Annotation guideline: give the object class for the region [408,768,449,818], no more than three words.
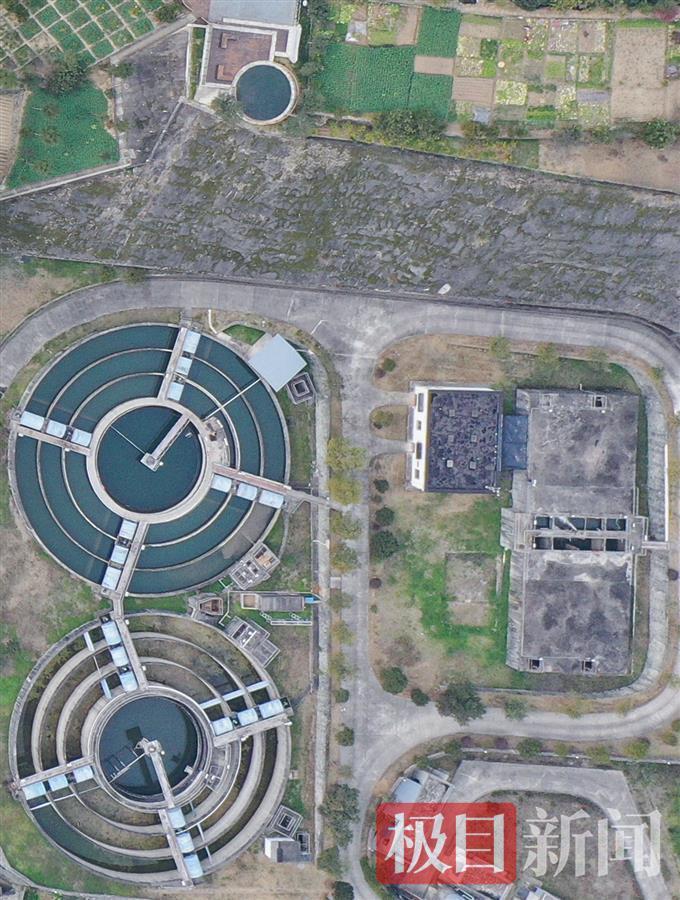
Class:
house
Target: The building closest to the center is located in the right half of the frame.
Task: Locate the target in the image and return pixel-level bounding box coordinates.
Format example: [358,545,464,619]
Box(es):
[405,381,503,496]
